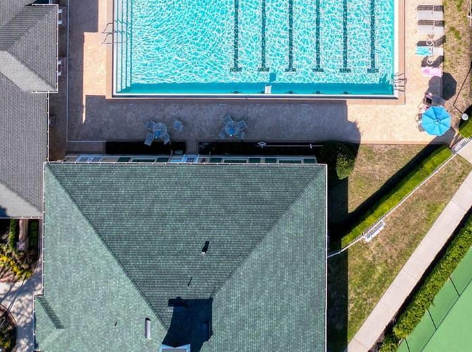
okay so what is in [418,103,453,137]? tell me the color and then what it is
blue umbrella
